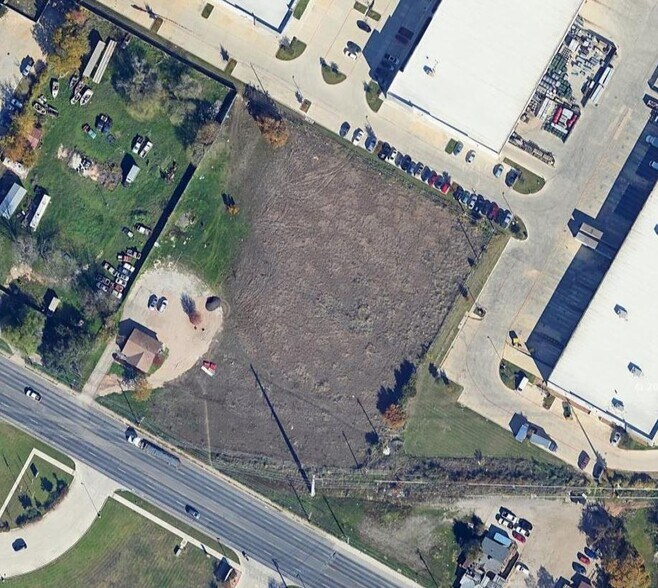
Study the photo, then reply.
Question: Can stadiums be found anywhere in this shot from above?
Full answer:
No, the photo shows no stadium.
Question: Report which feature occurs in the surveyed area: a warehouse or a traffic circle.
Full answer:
Of the two, only a warehouse appears.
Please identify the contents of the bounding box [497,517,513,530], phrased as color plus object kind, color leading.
white vehicle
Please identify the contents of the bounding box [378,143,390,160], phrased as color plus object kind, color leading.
black vehicle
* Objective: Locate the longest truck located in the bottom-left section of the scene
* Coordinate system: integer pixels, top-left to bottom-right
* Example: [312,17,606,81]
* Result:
[130,436,184,470]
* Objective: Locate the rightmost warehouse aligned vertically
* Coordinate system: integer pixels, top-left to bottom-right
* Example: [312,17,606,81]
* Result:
[546,189,658,445]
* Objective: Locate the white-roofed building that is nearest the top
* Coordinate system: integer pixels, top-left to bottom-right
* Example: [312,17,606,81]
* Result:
[209,0,303,40]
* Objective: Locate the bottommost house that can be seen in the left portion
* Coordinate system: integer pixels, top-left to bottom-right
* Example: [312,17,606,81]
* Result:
[123,329,162,373]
